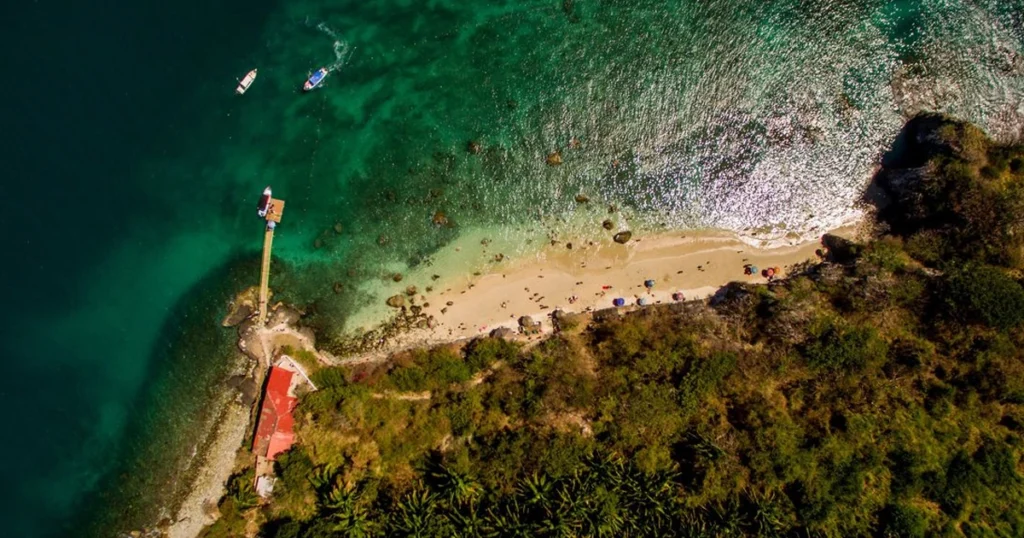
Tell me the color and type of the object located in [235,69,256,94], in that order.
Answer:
white boat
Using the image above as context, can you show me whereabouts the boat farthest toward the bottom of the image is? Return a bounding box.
[257,186,270,218]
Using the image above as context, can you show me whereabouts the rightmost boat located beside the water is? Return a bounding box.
[303,66,328,88]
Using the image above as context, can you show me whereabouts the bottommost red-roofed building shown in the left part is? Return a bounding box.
[253,366,297,497]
